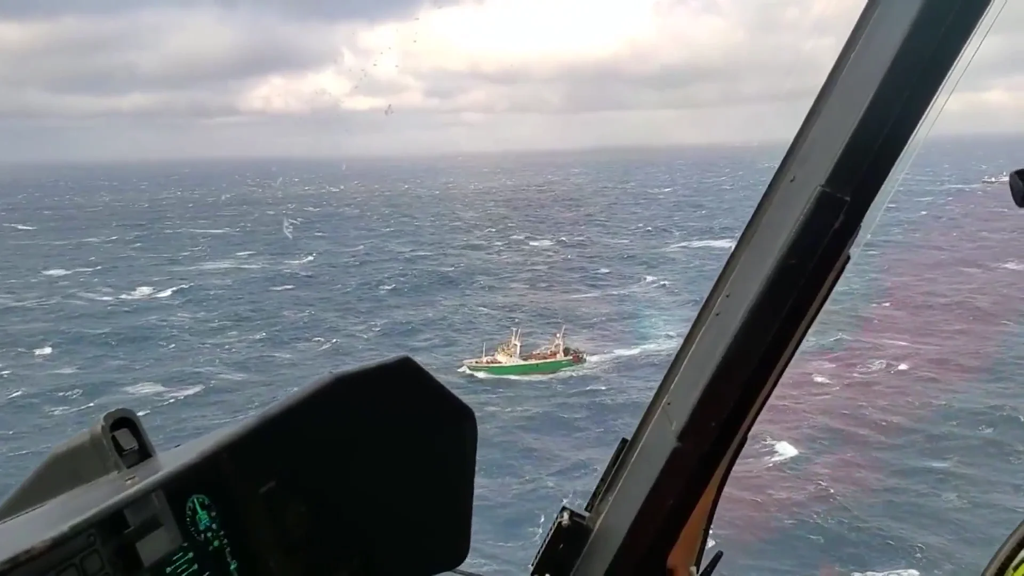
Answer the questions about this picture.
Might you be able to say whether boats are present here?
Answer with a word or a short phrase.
Yes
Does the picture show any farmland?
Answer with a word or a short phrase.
No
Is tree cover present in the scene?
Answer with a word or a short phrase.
No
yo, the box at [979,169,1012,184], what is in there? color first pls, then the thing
white vessel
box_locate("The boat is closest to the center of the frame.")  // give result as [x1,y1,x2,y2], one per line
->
[464,325,588,376]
